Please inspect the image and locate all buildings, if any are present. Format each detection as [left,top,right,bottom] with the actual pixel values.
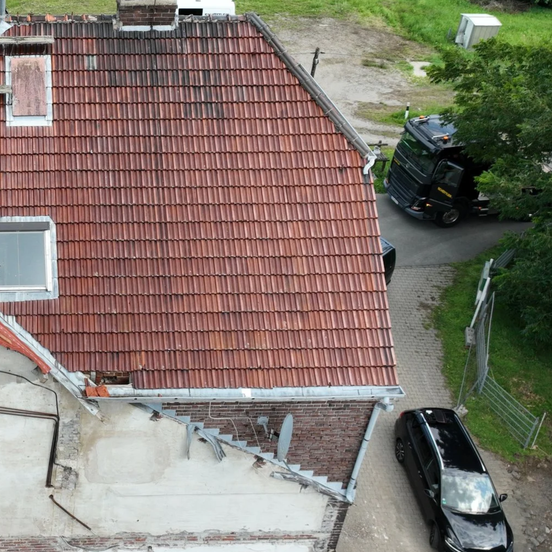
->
[455,16,503,49]
[0,0,410,552]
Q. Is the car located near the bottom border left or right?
right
